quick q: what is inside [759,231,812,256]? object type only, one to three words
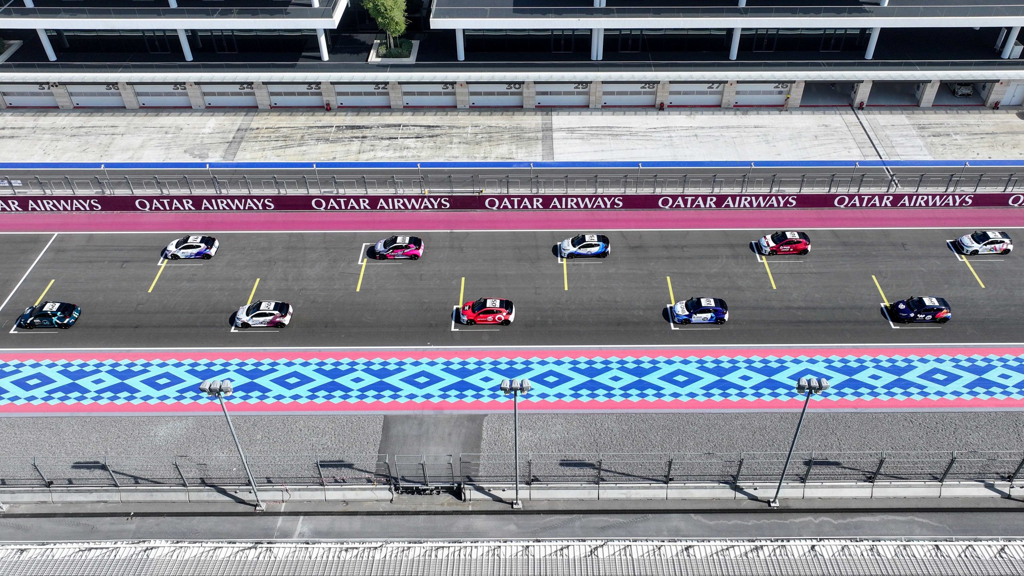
car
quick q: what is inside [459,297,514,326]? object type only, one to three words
car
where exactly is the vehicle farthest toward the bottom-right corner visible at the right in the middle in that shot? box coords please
[891,295,953,324]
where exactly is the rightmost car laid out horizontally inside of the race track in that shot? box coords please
[958,230,1015,255]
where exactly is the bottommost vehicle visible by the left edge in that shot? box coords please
[19,300,81,329]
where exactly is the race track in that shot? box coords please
[0,229,1024,350]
